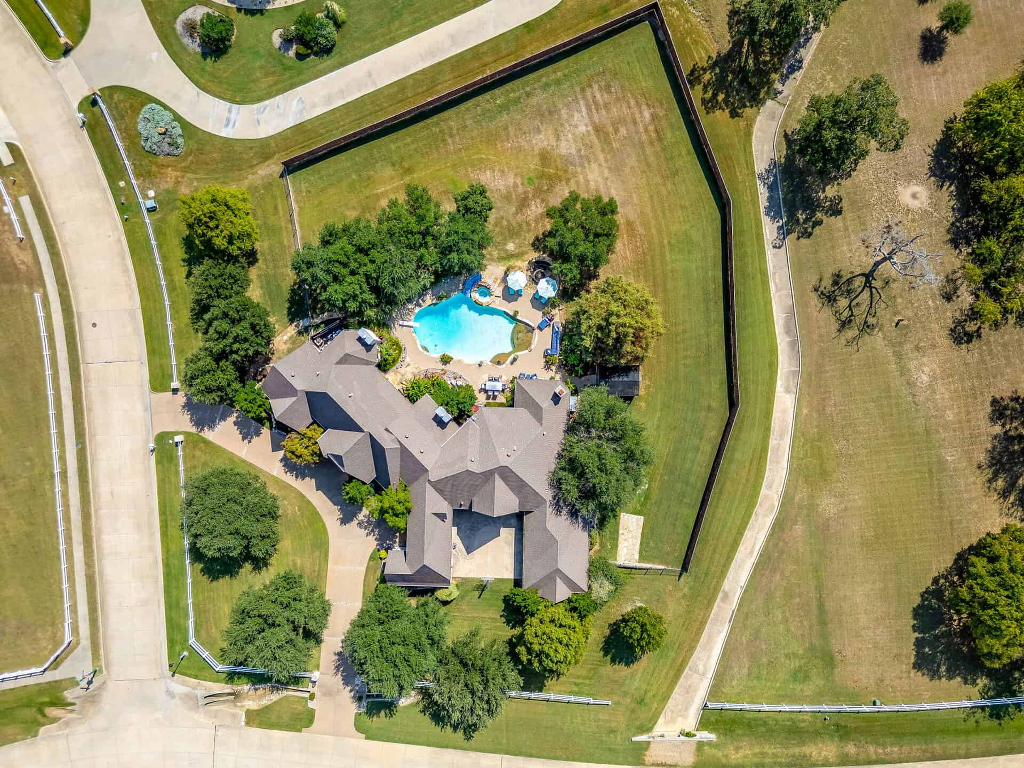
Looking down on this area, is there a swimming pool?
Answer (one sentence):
Yes, this view includes a swimming pool.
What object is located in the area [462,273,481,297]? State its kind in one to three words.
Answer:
swimming pool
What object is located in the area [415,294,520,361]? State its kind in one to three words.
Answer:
swimming pool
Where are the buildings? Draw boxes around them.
[262,323,589,603]
[600,364,640,397]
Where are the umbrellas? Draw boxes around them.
[538,278,557,298]
[507,270,527,291]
